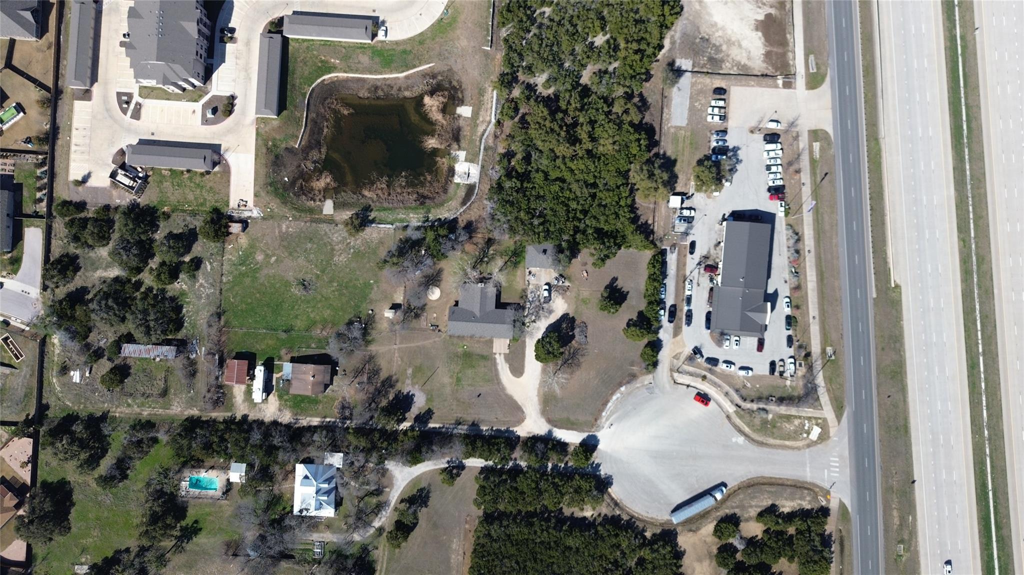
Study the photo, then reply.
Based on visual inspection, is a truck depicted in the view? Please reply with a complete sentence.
Yes, you can see a truck in this photo.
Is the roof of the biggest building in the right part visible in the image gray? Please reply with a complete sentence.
Yes, gray is the color of the roof of the biggest building in the right part.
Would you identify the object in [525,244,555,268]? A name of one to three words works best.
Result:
building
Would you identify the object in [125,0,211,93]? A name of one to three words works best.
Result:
building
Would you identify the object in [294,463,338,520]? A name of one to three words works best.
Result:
house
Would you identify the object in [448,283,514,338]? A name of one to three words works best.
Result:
house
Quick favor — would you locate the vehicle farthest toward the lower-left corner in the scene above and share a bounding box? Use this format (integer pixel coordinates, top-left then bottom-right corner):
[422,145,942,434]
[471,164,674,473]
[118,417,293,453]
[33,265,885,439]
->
[251,366,264,401]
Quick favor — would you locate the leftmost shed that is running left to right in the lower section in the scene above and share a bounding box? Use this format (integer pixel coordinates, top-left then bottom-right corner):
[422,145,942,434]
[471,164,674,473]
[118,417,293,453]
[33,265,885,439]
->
[121,344,178,359]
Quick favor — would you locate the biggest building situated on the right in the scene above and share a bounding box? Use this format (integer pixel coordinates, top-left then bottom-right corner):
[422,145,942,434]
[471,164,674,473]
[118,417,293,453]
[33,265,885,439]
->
[710,221,771,338]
